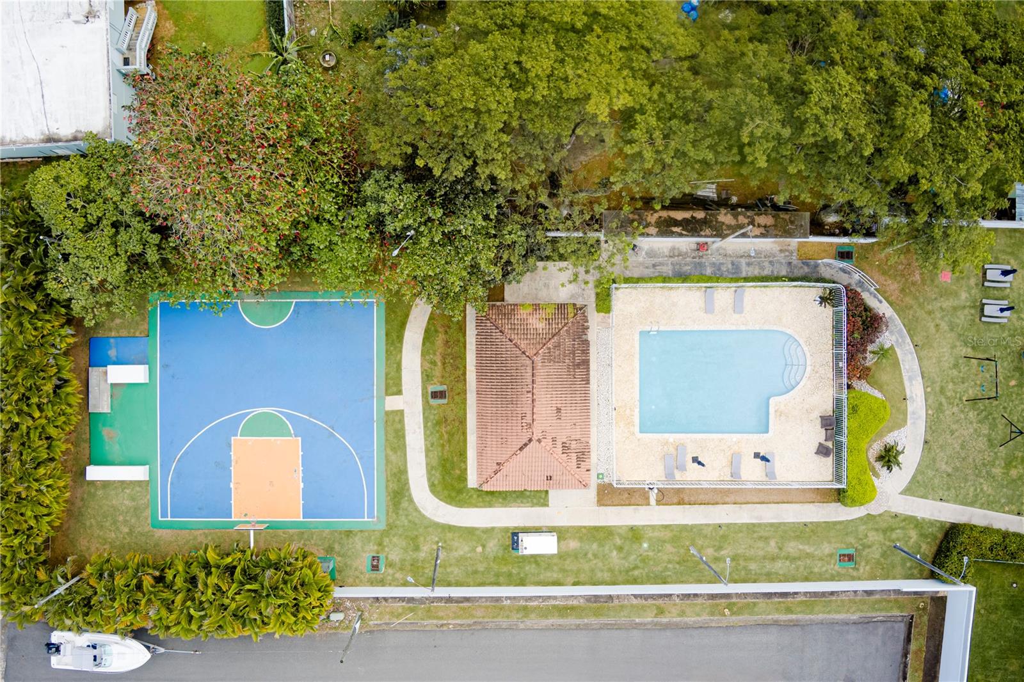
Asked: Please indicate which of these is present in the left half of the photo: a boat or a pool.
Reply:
boat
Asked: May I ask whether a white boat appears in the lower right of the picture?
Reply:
No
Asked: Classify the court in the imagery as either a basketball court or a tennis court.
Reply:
basketball court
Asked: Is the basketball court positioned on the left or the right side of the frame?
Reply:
left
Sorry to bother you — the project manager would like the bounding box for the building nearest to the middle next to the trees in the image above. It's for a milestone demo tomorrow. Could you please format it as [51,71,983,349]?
[474,302,592,493]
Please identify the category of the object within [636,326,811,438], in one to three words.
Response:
swimming pool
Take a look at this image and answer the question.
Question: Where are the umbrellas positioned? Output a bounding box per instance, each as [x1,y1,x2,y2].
[1002,268,1018,279]
[692,456,709,469]
[999,305,1016,314]
[754,453,776,466]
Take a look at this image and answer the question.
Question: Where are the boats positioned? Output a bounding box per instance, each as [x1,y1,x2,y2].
[41,632,150,672]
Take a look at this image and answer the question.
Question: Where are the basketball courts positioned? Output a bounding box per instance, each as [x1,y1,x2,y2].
[149,292,385,530]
